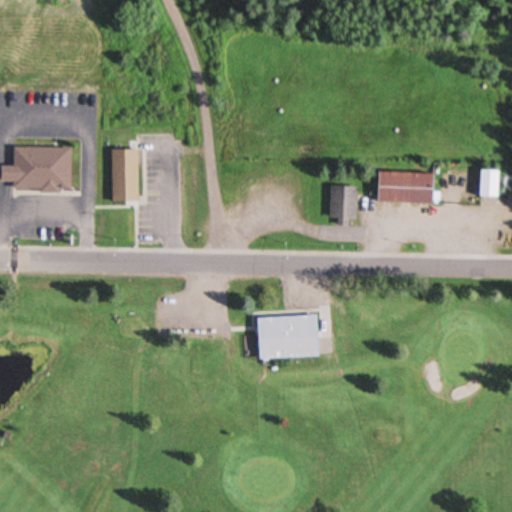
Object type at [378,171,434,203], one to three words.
building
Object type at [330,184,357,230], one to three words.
house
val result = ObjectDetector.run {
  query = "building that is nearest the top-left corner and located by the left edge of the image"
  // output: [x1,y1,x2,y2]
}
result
[0,146,72,190]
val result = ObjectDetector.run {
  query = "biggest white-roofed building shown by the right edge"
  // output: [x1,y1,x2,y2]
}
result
[480,168,501,198]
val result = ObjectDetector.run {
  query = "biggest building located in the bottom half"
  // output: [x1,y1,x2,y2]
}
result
[246,314,320,365]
